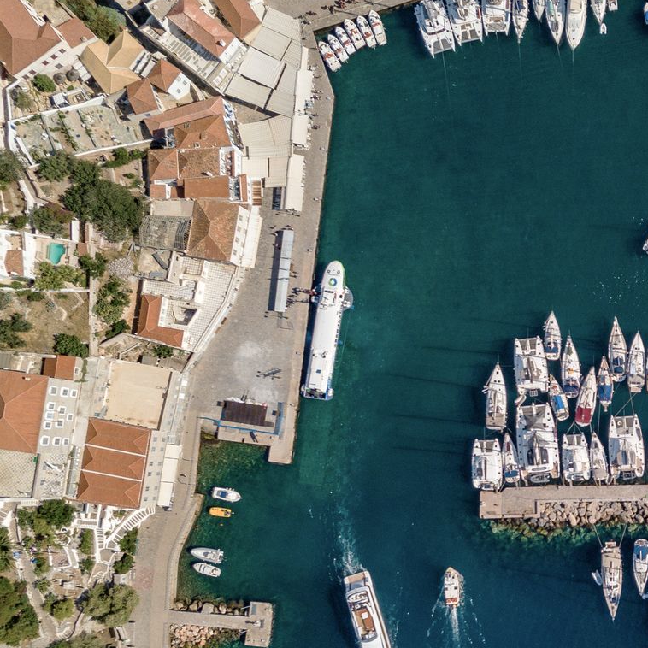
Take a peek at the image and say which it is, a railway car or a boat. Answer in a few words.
boat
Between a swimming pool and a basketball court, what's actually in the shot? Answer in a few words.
swimming pool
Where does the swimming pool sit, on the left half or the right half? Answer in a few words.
left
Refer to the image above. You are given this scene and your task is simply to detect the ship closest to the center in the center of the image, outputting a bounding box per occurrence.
[305,261,351,404]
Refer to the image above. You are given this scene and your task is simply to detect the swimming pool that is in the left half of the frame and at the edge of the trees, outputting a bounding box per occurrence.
[38,237,82,266]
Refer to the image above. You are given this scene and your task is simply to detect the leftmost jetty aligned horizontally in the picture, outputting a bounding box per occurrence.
[170,602,274,647]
